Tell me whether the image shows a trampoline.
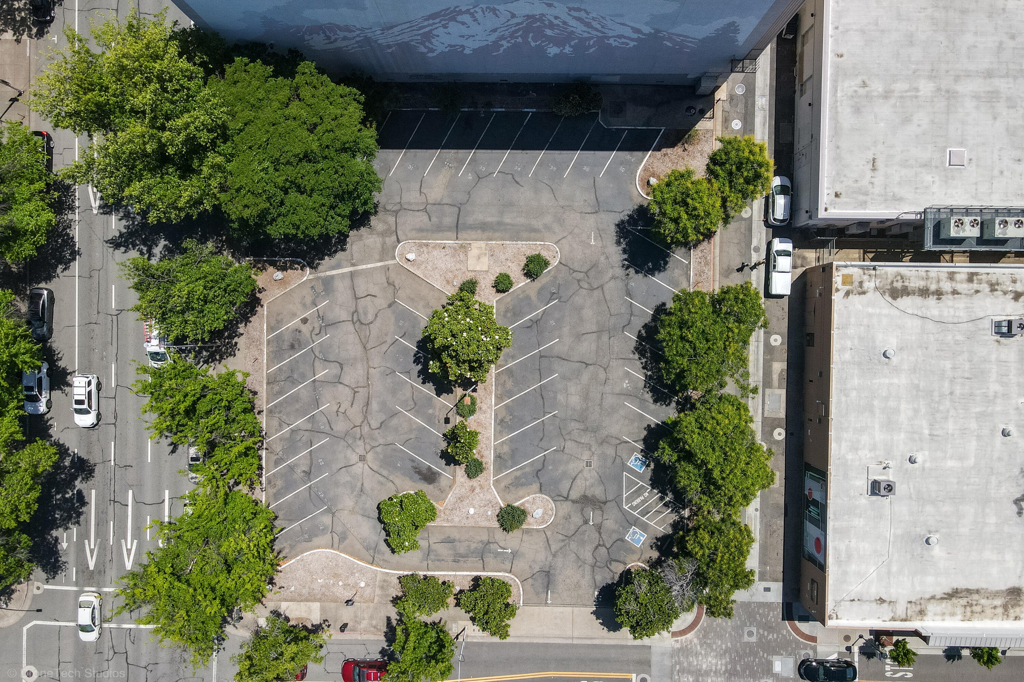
No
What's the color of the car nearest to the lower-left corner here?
white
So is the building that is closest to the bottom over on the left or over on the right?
right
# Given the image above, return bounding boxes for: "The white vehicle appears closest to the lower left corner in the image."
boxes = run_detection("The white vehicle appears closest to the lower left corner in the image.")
[74,593,103,643]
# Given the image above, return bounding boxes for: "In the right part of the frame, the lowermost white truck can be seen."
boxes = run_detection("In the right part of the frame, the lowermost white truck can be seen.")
[769,237,797,298]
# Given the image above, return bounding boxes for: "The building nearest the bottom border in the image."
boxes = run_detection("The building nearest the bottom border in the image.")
[800,262,1024,643]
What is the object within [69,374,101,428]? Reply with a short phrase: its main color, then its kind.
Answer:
white car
